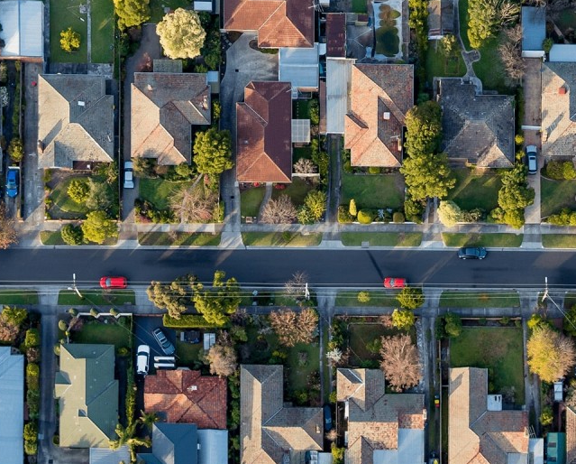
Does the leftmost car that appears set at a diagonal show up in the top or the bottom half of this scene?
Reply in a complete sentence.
You can find the leftmost car that appears set at a diagonal in the bottom half.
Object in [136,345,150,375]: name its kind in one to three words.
vehicle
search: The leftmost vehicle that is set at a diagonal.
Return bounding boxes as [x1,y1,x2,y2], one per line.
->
[152,326,176,357]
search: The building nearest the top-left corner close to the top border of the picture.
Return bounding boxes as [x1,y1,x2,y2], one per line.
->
[0,0,46,60]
